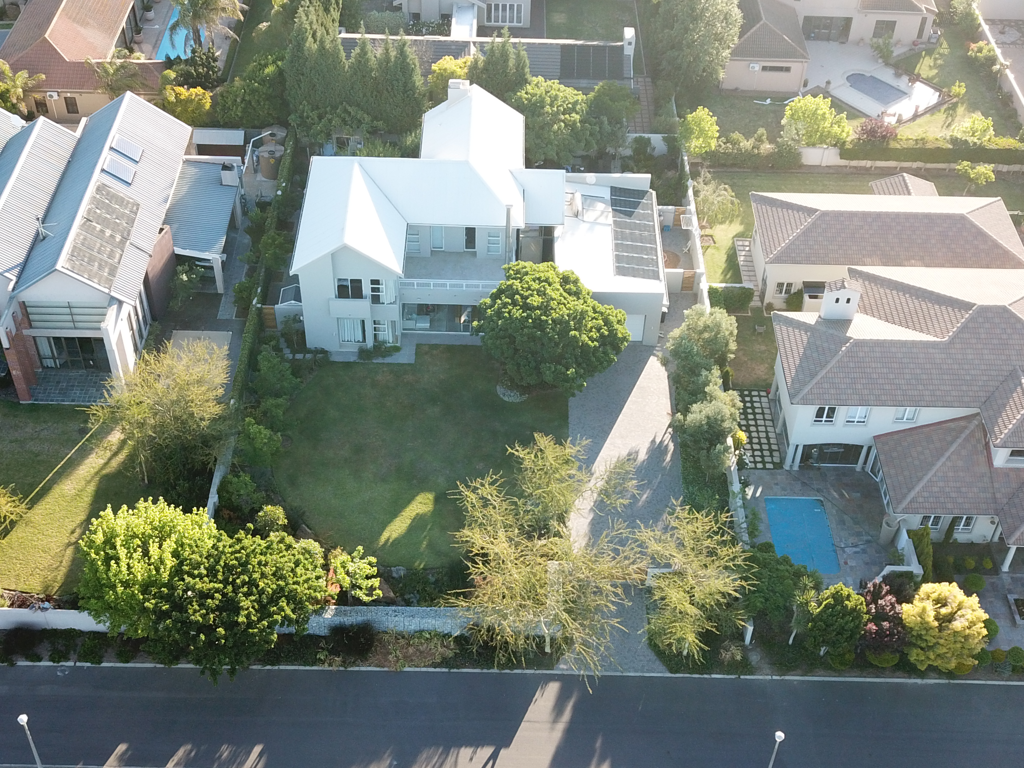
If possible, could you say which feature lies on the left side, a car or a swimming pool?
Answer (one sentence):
What appears on the left side is a swimming pool.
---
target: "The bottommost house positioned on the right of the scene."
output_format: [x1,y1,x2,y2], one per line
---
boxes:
[768,264,1024,575]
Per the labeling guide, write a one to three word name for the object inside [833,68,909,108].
swimming pool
